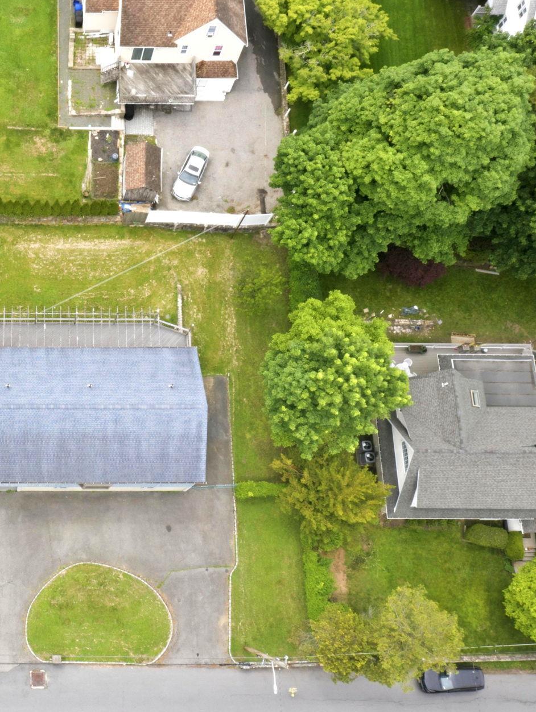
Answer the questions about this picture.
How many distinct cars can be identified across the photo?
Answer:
2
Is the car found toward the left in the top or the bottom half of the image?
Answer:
top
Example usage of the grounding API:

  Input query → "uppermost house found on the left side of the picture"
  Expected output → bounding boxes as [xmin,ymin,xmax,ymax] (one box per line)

[83,0,247,113]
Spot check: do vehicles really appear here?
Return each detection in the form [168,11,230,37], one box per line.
[414,662,488,699]
[173,146,208,204]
